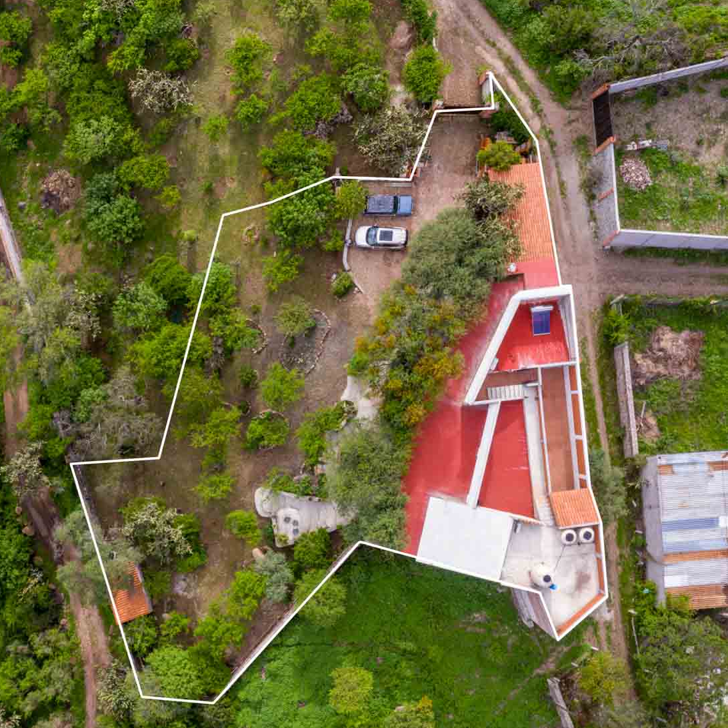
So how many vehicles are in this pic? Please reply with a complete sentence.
In total, 2 vehicles can be seen.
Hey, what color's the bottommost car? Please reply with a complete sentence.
From above, the bottommost car appears white.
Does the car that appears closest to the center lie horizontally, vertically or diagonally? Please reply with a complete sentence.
From this overhead view, the car that appears closest to the center appears to run horizontally.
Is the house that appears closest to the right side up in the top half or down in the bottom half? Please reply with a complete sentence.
The house that appears closest to the right side sits in the bottom half of the picture.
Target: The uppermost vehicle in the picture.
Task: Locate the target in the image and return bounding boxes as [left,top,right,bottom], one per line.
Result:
[364,192,411,218]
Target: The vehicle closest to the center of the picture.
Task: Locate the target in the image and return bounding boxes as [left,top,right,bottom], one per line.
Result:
[355,223,408,249]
